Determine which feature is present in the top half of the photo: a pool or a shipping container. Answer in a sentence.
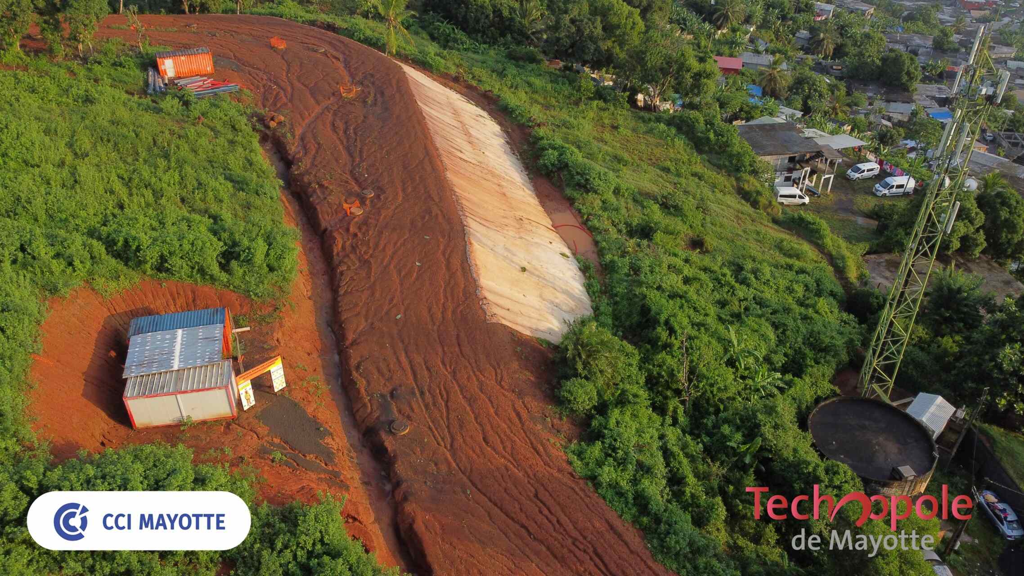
Looking in the top half of the photo, you will find a shipping container.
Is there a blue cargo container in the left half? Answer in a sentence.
Yes, a blue cargo container can be seen in the left half.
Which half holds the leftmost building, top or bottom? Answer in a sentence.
The leftmost building sits in the bottom half of the picture.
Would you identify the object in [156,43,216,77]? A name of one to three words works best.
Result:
shipping container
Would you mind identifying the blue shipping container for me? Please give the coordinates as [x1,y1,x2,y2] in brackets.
[130,308,231,361]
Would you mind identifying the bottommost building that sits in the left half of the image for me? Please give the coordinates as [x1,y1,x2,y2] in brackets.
[126,361,238,429]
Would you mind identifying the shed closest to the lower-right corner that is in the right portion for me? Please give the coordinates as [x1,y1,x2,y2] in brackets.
[909,393,956,438]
